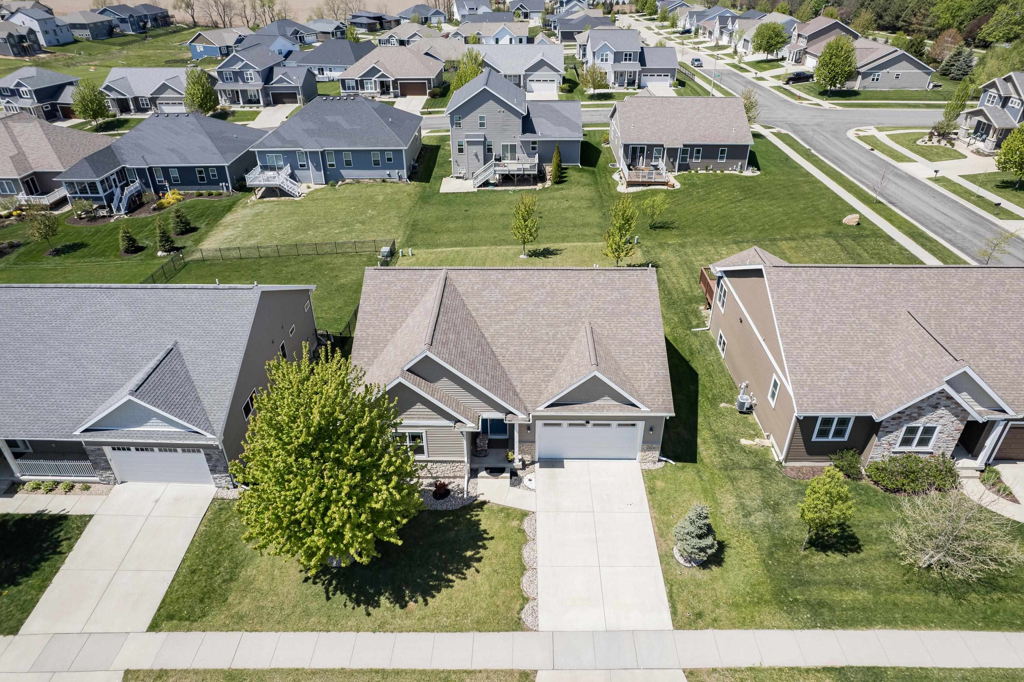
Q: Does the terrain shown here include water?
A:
No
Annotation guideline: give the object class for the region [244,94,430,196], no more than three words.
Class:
house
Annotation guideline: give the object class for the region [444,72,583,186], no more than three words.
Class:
house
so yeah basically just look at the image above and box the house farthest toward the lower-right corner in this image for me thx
[692,248,1024,487]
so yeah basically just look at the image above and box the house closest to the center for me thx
[349,259,683,491]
